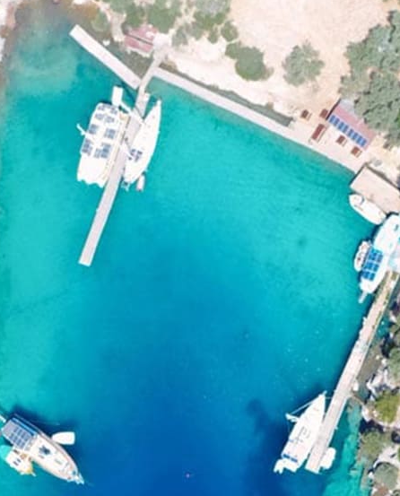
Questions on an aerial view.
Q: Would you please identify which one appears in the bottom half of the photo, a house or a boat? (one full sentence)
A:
It is a boat that can be seen in the bottom half of the photo.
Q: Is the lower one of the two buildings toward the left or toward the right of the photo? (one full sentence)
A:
The lower one of the two buildings appears in the right half of the scene.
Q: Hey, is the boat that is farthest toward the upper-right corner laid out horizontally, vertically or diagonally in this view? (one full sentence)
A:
In this picture, the boat that is farthest toward the upper-right corner is oriented diagonally.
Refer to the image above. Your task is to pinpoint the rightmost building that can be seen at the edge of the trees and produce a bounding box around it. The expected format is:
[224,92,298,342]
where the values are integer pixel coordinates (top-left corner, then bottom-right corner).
[327,96,376,148]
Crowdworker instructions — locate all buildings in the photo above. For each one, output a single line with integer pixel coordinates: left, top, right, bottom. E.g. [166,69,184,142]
[125,24,159,61]
[327,96,376,148]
